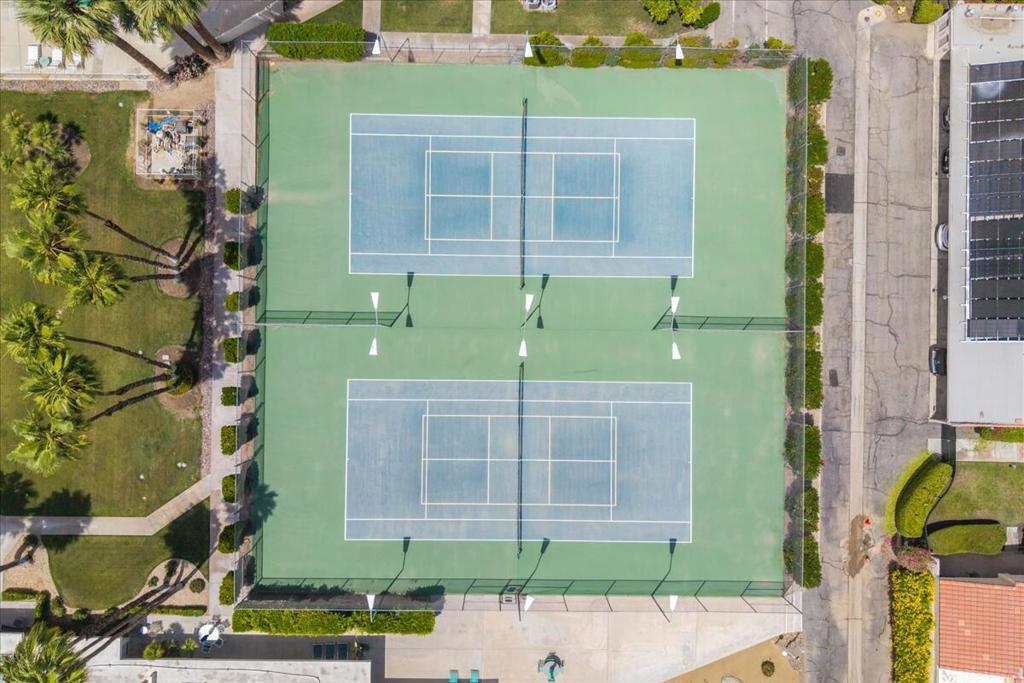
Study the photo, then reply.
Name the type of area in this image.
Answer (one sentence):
This looks like a sports ground.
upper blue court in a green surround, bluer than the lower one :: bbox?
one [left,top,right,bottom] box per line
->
[254,61,787,331]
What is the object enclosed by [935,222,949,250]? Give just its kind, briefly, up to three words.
car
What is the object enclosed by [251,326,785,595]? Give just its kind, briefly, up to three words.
tennis court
